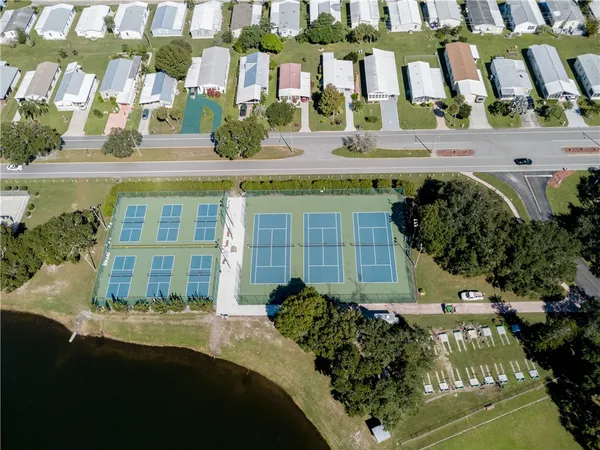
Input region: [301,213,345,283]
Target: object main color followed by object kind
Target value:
blue tennis court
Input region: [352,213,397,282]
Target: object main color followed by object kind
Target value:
blue tennis court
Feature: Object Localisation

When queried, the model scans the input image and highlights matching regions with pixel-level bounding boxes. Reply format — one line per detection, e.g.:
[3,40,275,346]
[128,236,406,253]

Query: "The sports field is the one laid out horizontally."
[421,396,584,450]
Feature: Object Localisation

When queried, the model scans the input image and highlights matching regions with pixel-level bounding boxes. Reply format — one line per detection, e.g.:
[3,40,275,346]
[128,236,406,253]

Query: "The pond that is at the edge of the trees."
[0,309,332,450]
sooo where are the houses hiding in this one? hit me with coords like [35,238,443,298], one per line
[15,63,61,103]
[114,2,148,38]
[231,4,261,35]
[141,74,178,108]
[237,54,270,107]
[279,62,311,101]
[190,2,224,36]
[387,0,422,30]
[575,56,600,101]
[35,5,75,37]
[56,63,97,107]
[491,60,533,102]
[186,46,229,93]
[504,0,547,30]
[0,9,36,36]
[350,0,379,28]
[152,2,188,35]
[271,1,300,36]
[465,0,504,31]
[364,49,400,99]
[426,0,462,26]
[0,60,21,103]
[528,46,578,100]
[408,62,446,103]
[543,0,587,35]
[100,56,144,109]
[311,0,342,28]
[445,43,486,101]
[323,52,354,95]
[75,6,111,37]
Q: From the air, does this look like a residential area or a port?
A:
residential area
